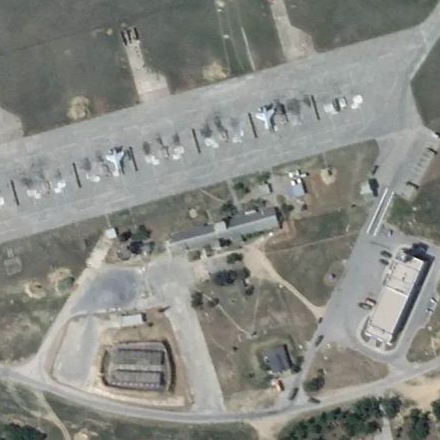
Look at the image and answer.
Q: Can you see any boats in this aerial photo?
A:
No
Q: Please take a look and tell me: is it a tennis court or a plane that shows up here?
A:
plane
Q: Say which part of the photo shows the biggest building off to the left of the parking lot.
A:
center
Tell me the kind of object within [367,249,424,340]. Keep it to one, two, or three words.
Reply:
building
